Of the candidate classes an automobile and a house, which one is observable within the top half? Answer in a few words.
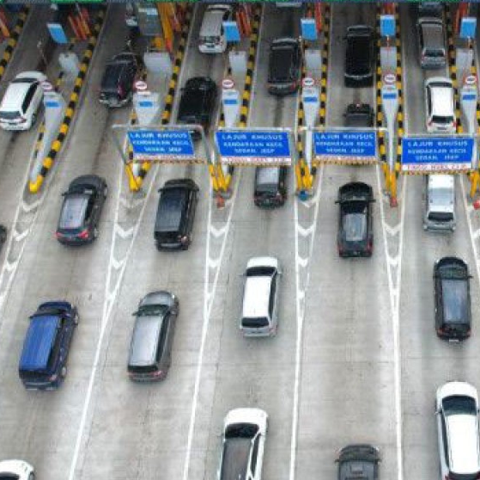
automobile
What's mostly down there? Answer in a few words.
paved ground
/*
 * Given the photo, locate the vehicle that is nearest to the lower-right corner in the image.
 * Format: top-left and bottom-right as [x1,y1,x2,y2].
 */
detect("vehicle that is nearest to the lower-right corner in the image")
[435,381,480,480]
